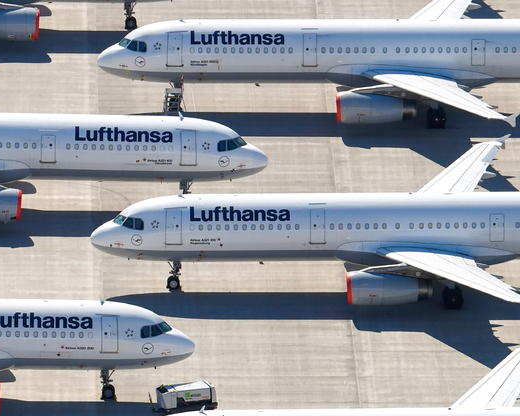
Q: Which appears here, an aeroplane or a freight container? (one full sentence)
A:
This aerial view contains an aeroplane.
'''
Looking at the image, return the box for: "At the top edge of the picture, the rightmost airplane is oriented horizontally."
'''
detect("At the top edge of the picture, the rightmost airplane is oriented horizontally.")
[97,0,520,130]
